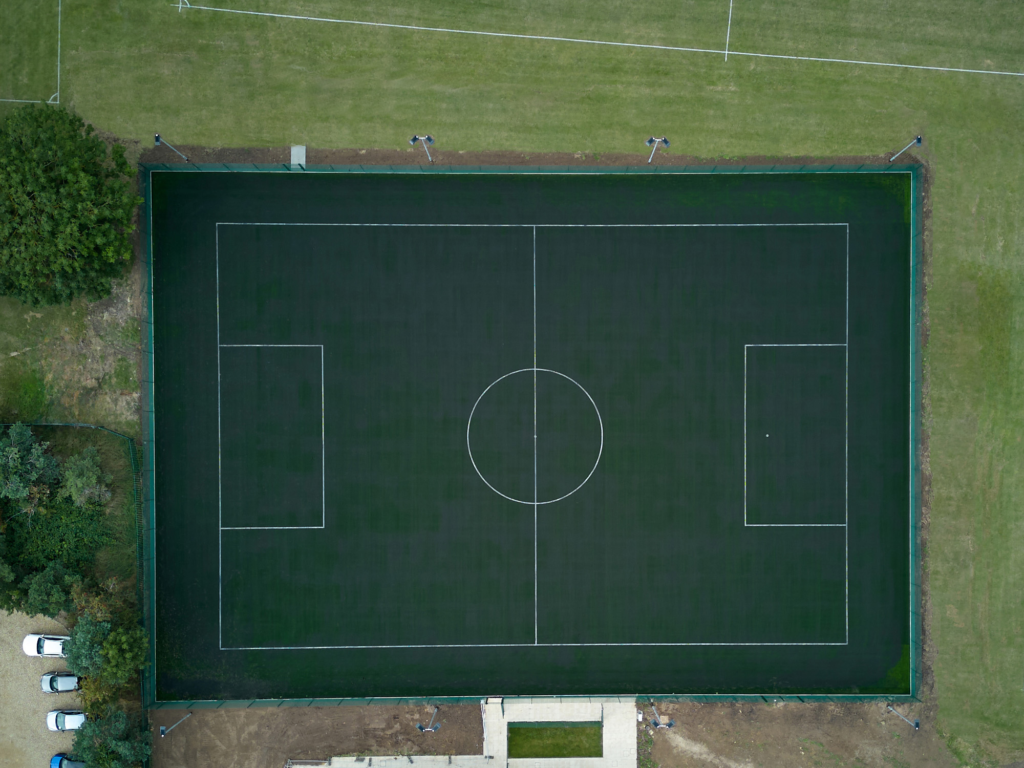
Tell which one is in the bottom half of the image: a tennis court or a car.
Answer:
car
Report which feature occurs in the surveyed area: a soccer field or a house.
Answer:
soccer field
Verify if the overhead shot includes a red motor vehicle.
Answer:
No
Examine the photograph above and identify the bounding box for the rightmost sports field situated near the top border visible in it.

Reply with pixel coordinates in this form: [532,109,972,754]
[170,0,1024,75]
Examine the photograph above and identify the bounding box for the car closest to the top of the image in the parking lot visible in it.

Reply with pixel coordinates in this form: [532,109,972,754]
[23,633,73,659]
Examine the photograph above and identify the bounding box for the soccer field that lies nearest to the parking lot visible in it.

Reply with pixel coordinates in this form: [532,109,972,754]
[151,171,912,702]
